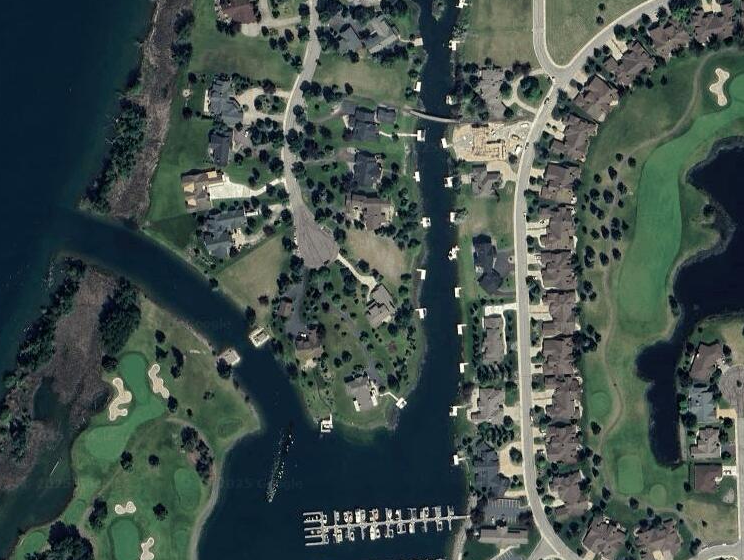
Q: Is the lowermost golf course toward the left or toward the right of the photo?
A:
left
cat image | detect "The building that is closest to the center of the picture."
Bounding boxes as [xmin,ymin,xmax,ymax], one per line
[364,282,399,325]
